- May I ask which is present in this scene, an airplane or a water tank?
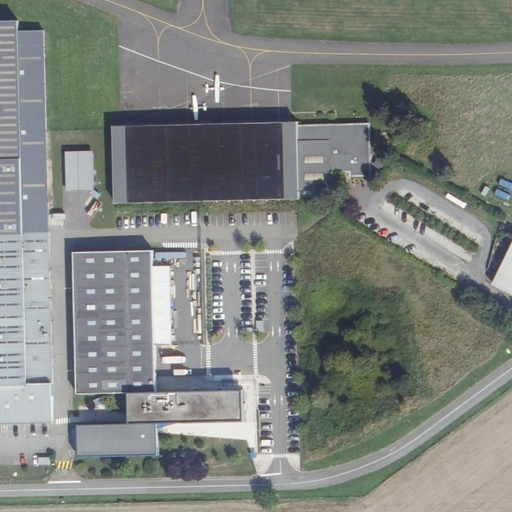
airplane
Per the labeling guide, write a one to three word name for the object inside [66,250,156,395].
building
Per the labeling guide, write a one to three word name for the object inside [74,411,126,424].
building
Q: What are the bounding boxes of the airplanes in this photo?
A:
[190,94,208,120]
[204,74,224,102]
